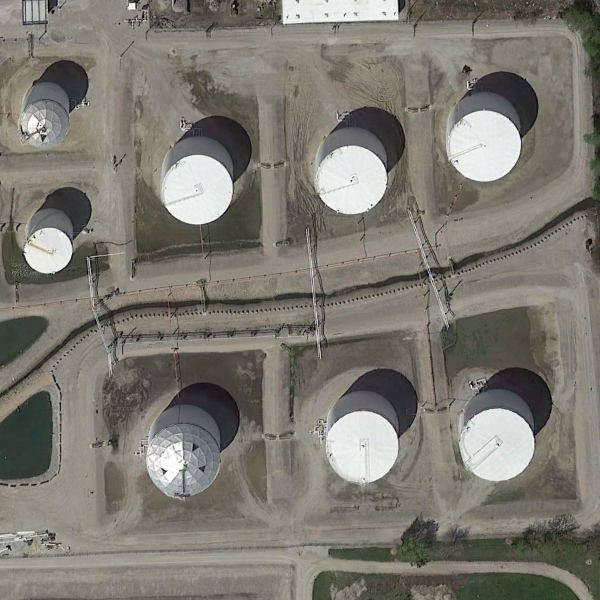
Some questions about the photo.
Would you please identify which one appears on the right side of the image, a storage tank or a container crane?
storage tank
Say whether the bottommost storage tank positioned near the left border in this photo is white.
Yes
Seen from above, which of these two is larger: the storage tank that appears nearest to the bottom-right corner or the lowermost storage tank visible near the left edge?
the storage tank that appears nearest to the bottom-right corner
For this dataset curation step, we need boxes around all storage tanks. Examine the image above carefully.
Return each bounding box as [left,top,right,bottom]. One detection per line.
[315,126,389,215]
[14,81,70,148]
[447,90,524,182]
[459,388,537,483]
[161,136,234,225]
[19,208,73,275]
[325,390,400,484]
[144,404,222,500]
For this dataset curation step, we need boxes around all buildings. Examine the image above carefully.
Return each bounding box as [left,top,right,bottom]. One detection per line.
[282,0,398,25]
[21,0,51,26]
